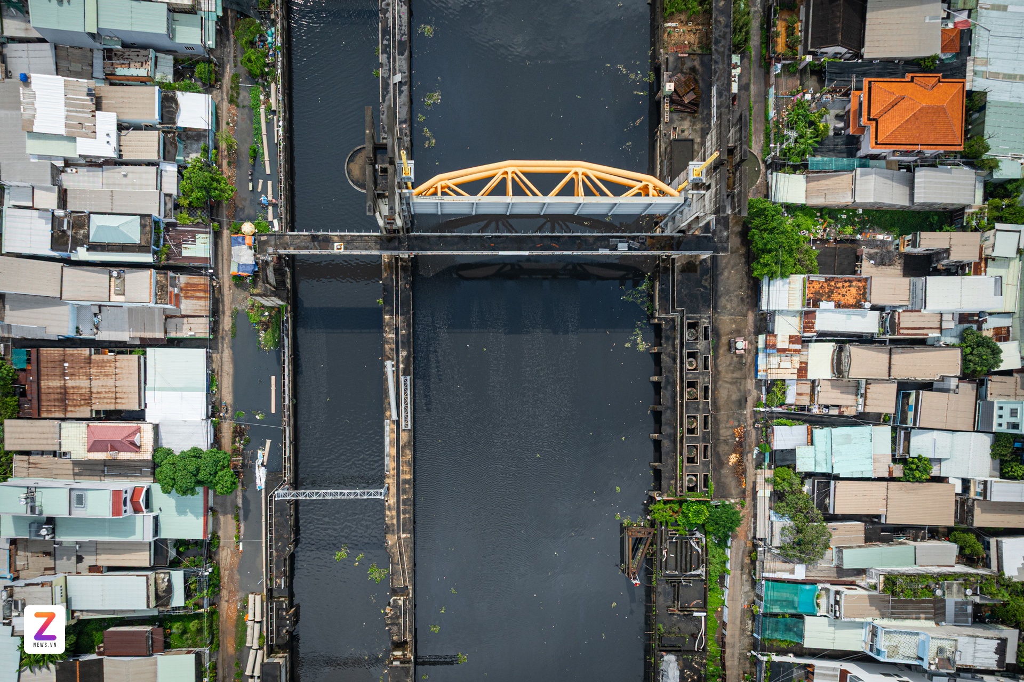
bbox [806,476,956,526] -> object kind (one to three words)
house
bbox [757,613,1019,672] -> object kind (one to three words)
house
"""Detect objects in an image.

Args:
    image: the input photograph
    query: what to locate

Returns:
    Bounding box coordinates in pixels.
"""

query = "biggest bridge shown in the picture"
[256,228,730,262]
